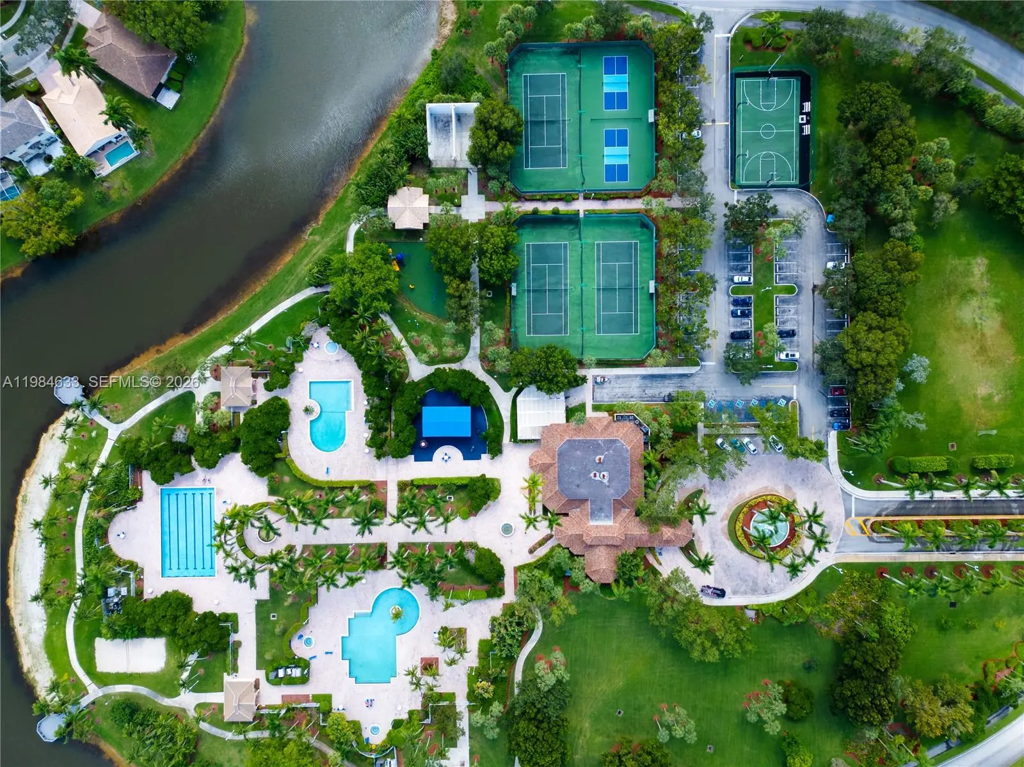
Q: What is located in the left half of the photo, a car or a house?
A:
house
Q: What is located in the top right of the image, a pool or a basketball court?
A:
basketball court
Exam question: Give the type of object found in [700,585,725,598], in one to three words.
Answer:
vehicle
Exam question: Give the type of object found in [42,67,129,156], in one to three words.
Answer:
house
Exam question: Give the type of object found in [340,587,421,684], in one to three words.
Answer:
swimming pool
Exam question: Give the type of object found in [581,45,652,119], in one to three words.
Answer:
sports court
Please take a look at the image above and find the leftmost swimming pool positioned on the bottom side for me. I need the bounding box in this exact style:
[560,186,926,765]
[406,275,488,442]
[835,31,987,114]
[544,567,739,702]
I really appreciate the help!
[159,486,217,579]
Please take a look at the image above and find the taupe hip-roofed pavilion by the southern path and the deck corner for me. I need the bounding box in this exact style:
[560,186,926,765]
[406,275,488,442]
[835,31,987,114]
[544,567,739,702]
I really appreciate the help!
[223,678,256,722]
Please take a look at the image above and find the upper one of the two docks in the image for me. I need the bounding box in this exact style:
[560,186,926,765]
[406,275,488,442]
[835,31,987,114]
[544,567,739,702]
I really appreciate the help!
[52,378,91,415]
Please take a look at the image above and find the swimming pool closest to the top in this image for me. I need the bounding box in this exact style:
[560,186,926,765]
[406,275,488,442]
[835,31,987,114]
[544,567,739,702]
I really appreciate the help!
[103,140,136,167]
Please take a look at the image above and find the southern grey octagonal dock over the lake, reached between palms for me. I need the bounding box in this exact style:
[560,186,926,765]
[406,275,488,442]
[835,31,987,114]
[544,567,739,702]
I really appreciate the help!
[35,708,75,743]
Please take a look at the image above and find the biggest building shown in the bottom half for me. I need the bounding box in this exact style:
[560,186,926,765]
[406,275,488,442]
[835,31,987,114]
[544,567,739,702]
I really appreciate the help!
[530,417,693,583]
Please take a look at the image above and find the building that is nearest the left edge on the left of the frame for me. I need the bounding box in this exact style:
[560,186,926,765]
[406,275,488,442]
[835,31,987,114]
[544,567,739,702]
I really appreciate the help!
[0,94,60,163]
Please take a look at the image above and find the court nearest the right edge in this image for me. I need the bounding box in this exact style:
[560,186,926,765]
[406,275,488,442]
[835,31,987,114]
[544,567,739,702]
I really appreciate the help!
[732,71,811,186]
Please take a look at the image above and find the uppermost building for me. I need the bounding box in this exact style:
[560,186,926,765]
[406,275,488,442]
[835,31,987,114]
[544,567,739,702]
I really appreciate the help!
[84,12,177,99]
